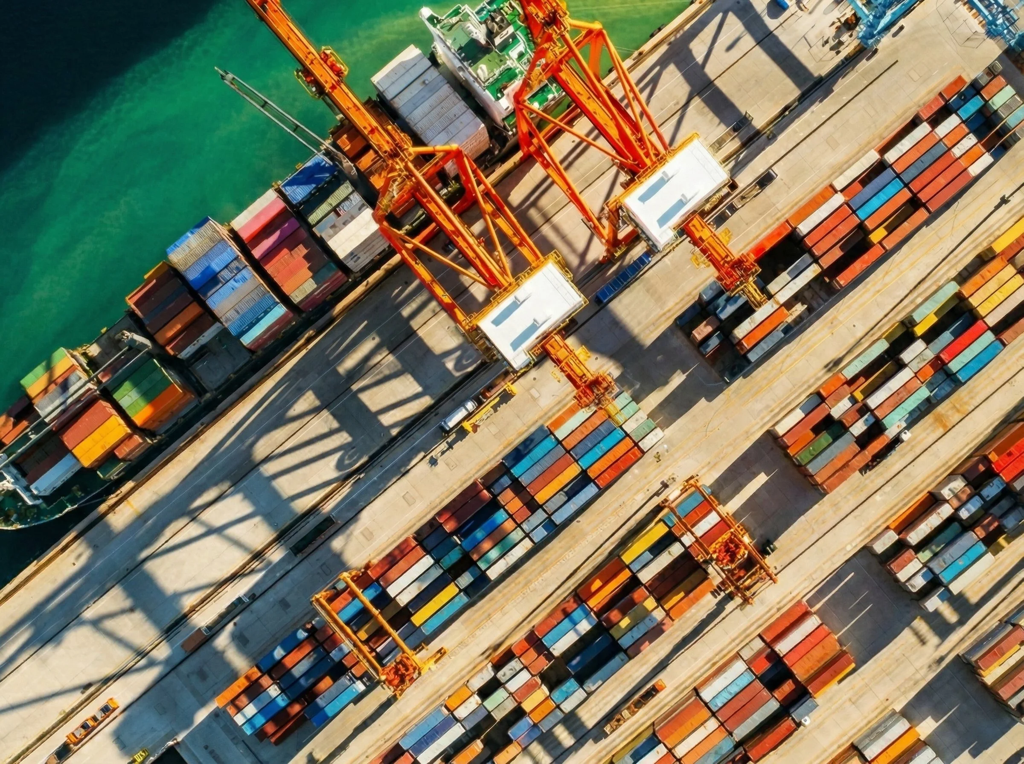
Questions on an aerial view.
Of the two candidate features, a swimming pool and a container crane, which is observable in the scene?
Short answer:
container crane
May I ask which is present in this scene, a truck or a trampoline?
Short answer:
truck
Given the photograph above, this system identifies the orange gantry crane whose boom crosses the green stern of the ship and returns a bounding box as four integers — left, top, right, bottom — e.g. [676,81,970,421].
[506,0,777,309]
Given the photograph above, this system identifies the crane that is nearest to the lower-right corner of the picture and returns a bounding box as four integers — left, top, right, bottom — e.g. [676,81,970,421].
[641,466,790,618]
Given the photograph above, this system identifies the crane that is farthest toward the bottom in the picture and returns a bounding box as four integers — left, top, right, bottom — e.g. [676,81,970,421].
[300,547,456,706]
